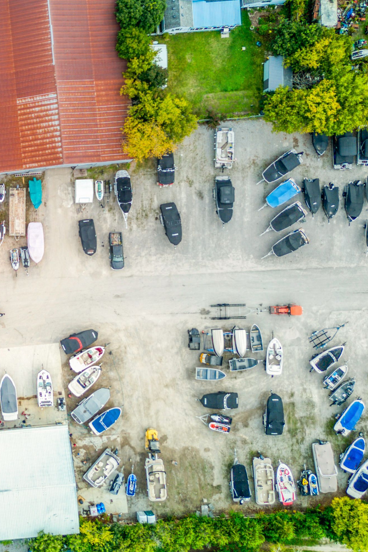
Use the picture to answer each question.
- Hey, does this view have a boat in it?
Yes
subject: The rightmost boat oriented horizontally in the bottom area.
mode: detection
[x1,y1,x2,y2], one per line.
[225,357,259,371]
